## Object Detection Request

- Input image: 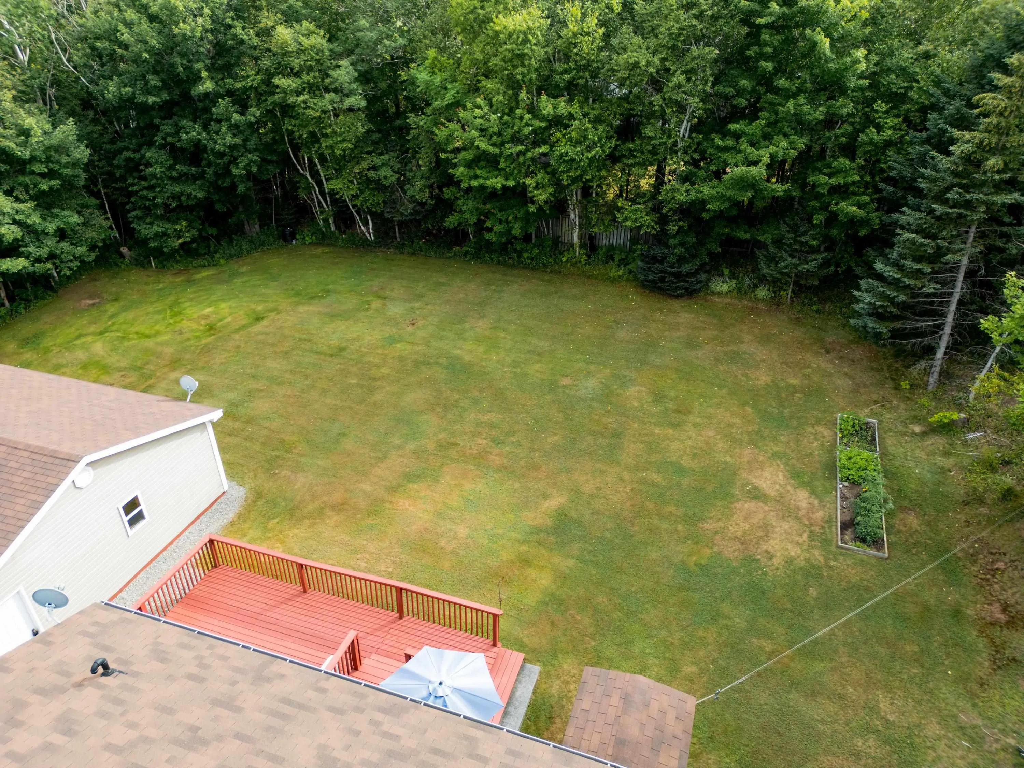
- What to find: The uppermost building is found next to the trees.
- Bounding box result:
[0,363,228,656]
